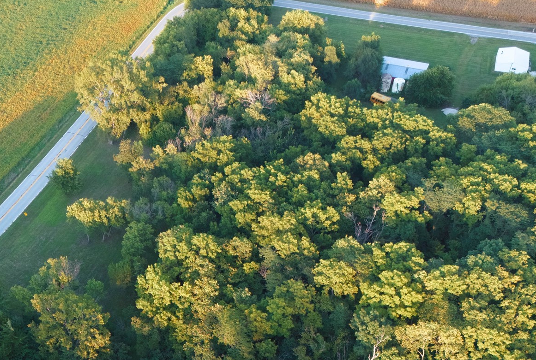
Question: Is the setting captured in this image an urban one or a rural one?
rural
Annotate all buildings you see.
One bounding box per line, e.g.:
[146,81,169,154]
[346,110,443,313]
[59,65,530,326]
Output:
[496,47,532,76]
[375,56,431,88]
